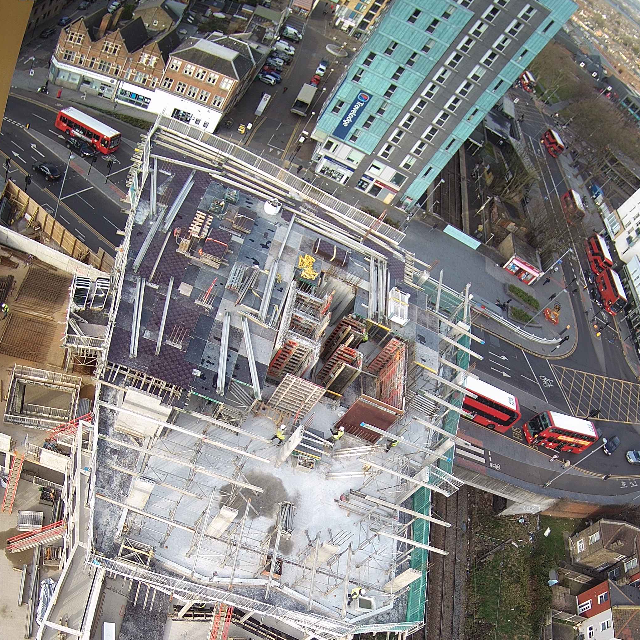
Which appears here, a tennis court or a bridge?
bridge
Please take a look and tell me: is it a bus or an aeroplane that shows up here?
bus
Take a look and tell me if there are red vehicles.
Yes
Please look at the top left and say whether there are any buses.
Yes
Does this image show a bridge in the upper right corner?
No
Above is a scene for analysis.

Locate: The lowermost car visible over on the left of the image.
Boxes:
[33,165,61,183]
